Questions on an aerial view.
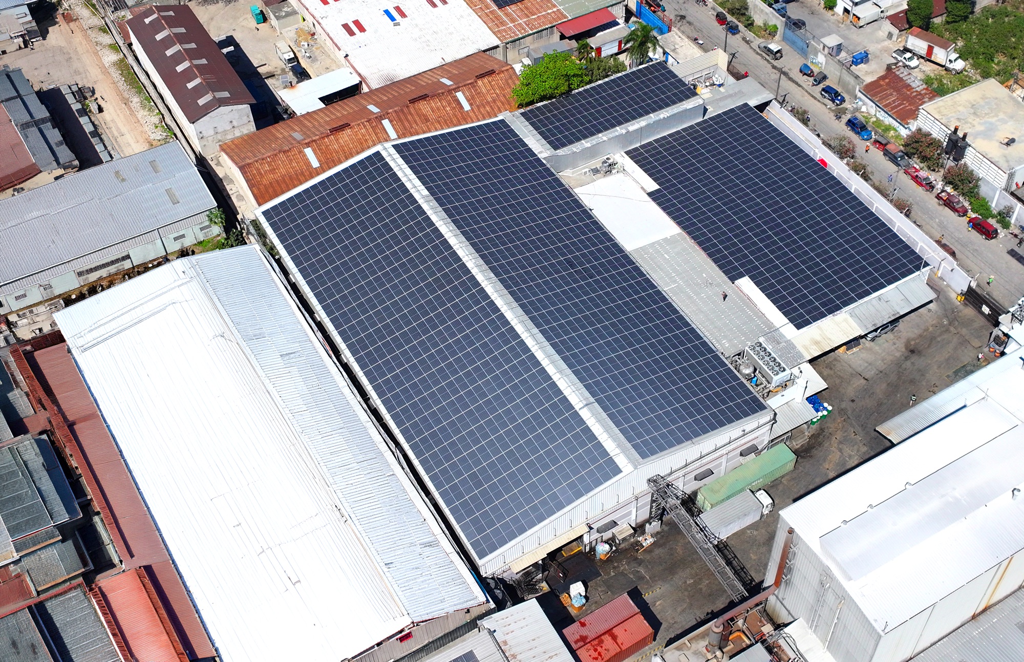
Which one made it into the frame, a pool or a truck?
truck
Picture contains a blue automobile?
Yes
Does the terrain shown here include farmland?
No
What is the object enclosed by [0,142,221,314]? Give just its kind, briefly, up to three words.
building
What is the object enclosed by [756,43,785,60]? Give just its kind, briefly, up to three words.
car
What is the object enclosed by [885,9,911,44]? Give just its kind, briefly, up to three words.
shed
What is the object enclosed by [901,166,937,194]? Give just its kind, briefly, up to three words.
truck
